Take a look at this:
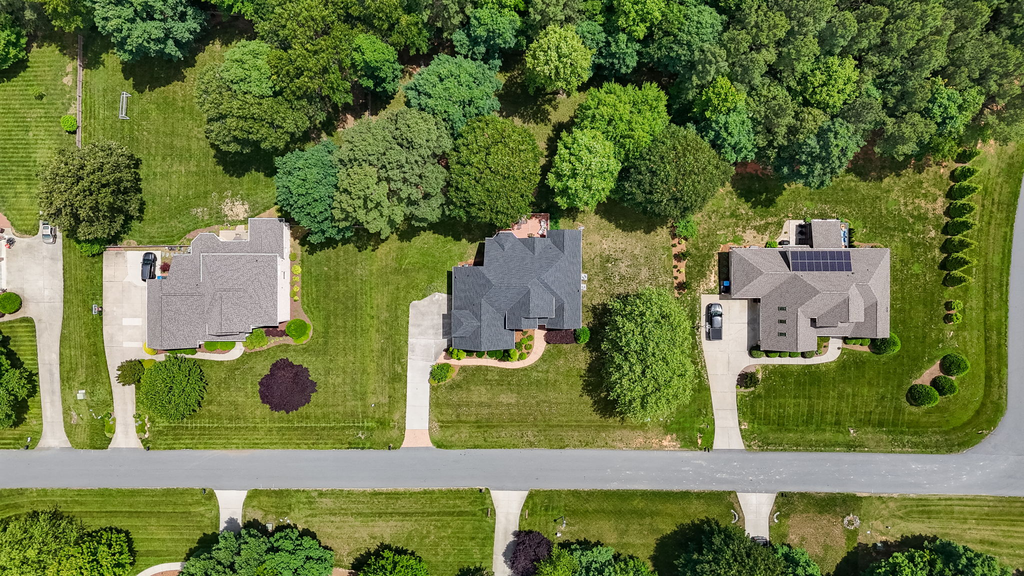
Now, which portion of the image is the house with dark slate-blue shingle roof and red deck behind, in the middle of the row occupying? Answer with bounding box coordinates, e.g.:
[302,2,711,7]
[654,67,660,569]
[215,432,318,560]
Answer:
[450,228,582,352]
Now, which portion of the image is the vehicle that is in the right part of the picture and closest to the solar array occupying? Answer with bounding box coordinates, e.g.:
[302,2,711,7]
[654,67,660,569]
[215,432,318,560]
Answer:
[710,303,725,341]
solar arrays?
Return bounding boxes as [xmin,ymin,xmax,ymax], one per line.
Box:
[791,249,853,270]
